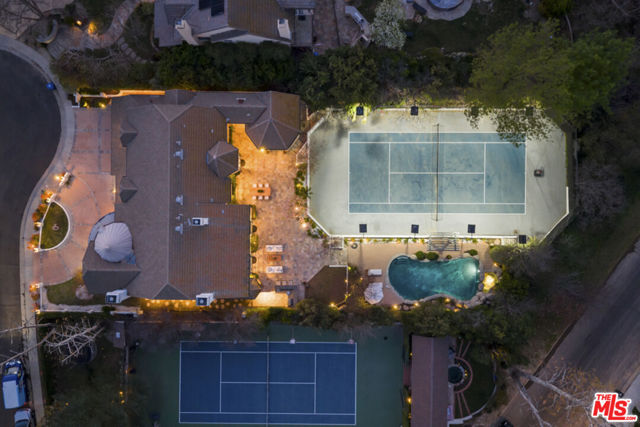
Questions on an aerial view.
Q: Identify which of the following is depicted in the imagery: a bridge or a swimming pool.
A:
swimming pool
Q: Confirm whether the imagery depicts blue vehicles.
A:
Yes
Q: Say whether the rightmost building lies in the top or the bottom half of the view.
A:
bottom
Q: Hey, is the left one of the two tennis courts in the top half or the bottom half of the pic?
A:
bottom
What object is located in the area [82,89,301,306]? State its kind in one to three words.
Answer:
house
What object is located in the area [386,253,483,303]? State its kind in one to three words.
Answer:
swimming pool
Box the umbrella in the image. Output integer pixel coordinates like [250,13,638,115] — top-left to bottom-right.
[363,283,382,303]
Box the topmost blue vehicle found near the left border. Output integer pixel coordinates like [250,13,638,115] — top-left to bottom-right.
[2,357,31,412]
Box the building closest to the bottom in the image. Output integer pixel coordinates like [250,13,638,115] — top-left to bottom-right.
[411,333,448,427]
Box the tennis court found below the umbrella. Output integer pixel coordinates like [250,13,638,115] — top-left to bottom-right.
[131,323,402,427]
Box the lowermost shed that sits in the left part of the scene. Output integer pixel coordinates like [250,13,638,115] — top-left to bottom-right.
[107,318,129,347]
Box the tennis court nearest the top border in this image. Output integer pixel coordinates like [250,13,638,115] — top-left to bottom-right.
[309,111,567,238]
